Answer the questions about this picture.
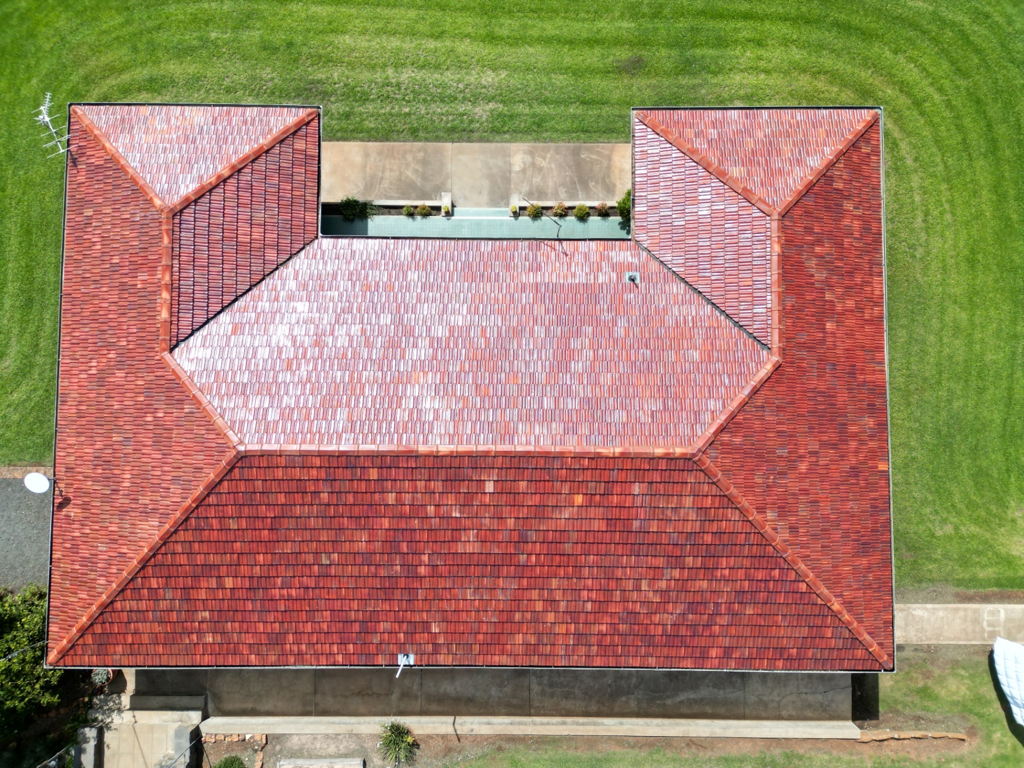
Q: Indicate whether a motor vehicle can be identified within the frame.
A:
No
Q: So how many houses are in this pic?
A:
1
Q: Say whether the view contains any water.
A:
No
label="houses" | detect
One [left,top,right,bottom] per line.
[45,104,896,678]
